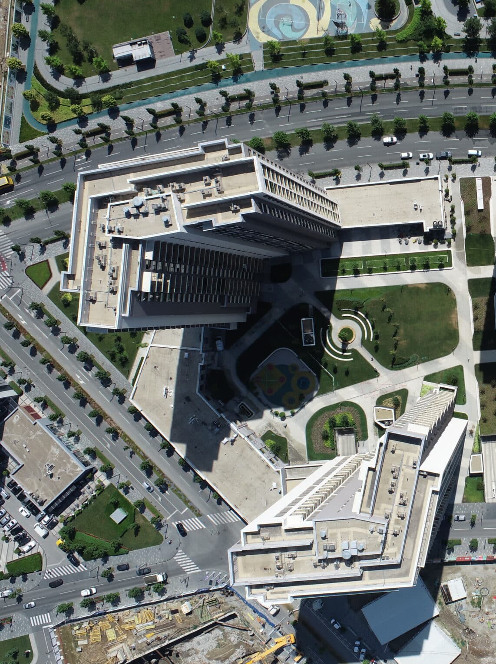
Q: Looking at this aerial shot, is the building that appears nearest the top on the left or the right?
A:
left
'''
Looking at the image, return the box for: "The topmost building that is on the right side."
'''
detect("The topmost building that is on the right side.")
[325,176,447,233]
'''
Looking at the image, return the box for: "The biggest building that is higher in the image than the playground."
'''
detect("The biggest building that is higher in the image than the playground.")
[61,139,343,335]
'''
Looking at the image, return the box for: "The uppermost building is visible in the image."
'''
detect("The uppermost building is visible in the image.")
[113,30,175,69]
